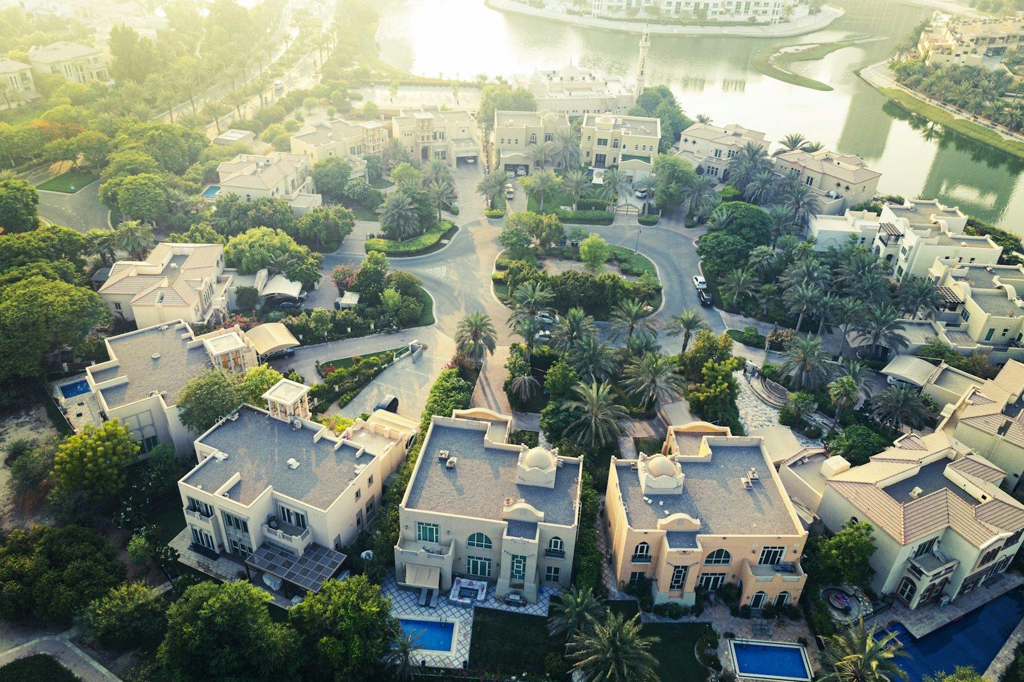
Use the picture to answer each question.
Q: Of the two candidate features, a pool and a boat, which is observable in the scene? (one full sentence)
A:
The image shows a pool.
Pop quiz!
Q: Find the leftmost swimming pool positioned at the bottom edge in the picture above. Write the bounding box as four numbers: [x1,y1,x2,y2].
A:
[380,612,460,658]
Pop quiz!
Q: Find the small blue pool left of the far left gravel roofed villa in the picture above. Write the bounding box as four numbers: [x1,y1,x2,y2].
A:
[53,378,94,400]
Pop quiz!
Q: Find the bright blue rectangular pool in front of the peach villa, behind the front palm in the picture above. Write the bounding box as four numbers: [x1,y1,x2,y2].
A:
[728,633,815,682]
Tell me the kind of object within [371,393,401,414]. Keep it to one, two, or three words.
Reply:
car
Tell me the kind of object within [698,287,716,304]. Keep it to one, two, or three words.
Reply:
car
